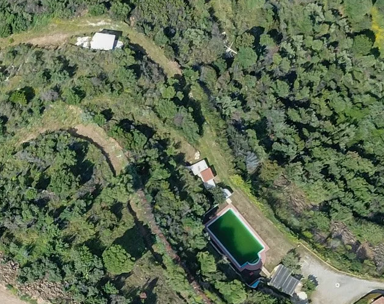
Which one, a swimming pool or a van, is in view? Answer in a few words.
swimming pool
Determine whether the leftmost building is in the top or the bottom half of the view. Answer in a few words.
top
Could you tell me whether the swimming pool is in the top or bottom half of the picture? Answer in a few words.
bottom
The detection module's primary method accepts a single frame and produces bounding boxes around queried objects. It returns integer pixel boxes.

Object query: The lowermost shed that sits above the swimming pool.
[188,161,215,185]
